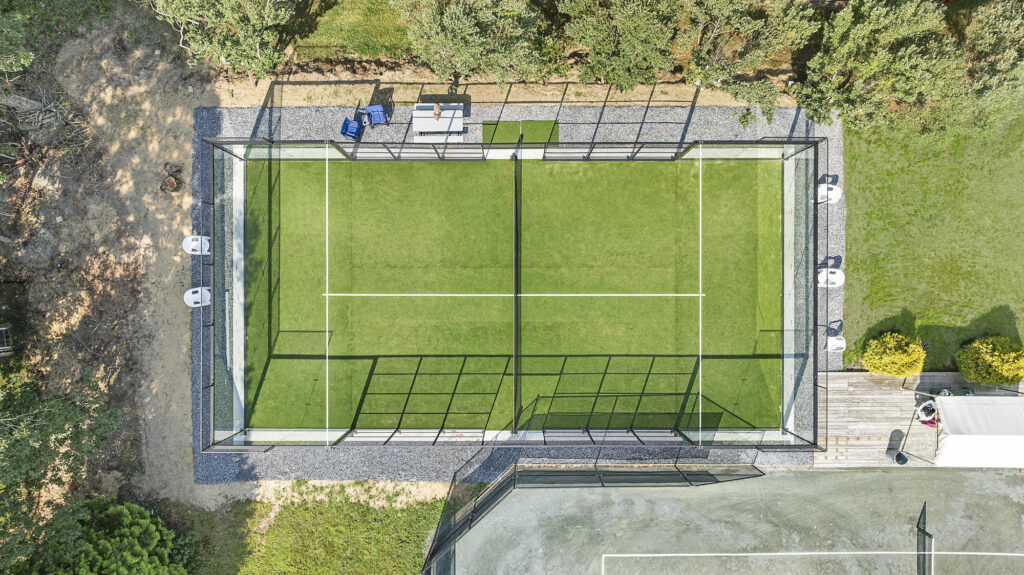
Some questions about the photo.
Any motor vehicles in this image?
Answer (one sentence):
No, no motor vehicle is visible in the scene.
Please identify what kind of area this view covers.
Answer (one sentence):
The picture captures a sports ground.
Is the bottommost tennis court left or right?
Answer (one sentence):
The bottommost tennis court is on the right side of the image.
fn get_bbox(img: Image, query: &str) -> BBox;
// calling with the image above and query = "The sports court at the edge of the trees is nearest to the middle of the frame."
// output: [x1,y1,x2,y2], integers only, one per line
[234,147,794,441]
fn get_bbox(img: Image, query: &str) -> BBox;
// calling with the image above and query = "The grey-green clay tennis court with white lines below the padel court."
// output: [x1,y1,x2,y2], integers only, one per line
[430,467,1024,575]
